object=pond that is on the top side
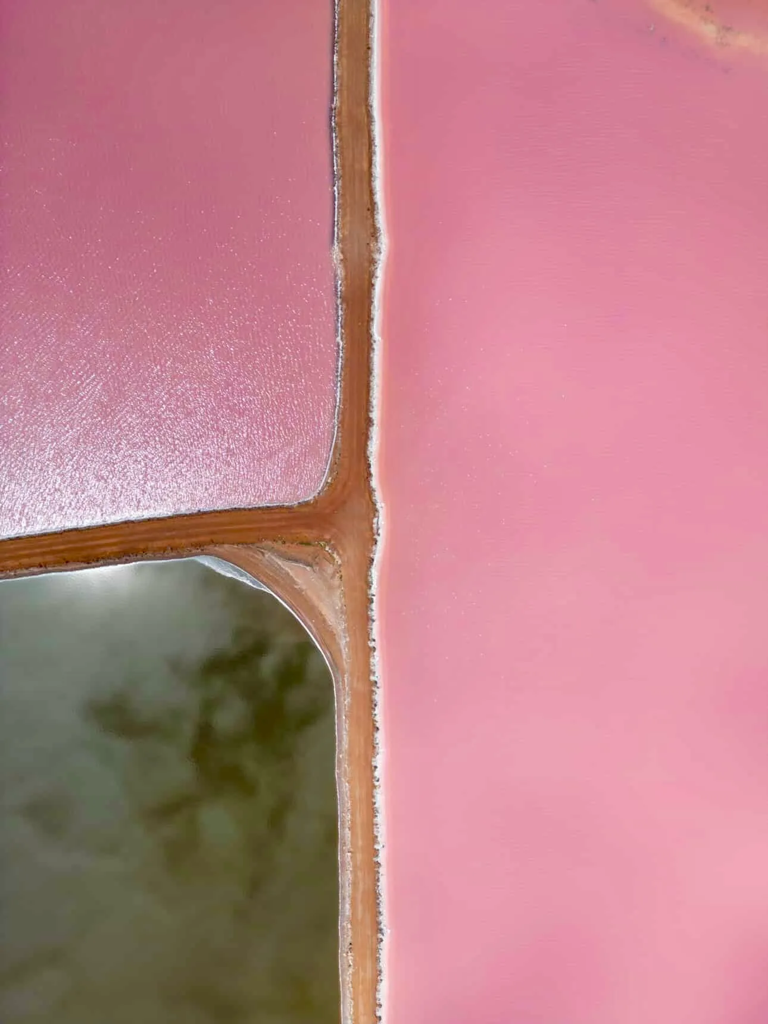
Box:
[0,0,340,538]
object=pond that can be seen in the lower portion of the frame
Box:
[0,557,342,1024]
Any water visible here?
Yes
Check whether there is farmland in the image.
No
